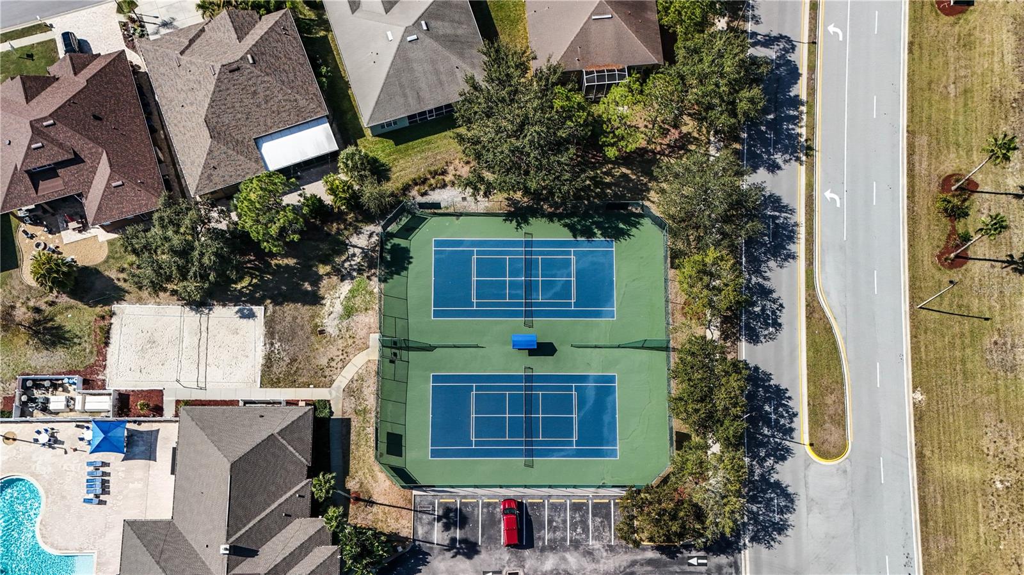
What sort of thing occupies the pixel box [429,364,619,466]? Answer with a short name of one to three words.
tennis court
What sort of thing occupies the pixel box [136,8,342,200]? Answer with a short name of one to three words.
house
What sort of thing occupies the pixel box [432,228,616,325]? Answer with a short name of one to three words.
tennis court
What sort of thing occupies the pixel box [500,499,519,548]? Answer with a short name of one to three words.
vehicle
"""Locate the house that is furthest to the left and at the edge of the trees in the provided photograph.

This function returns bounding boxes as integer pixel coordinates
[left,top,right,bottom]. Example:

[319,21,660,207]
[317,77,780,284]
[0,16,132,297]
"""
[0,49,170,229]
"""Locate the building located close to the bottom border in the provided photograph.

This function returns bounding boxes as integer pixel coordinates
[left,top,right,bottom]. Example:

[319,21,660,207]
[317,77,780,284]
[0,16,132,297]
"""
[118,407,342,575]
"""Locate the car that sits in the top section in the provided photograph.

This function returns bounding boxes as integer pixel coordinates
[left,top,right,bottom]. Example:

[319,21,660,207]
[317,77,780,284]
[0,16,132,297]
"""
[61,28,79,54]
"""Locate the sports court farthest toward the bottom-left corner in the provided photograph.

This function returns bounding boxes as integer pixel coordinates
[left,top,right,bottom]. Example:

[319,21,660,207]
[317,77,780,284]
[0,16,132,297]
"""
[106,305,264,389]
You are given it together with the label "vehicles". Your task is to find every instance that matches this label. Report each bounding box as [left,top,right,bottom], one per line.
[61,28,79,54]
[500,499,519,548]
